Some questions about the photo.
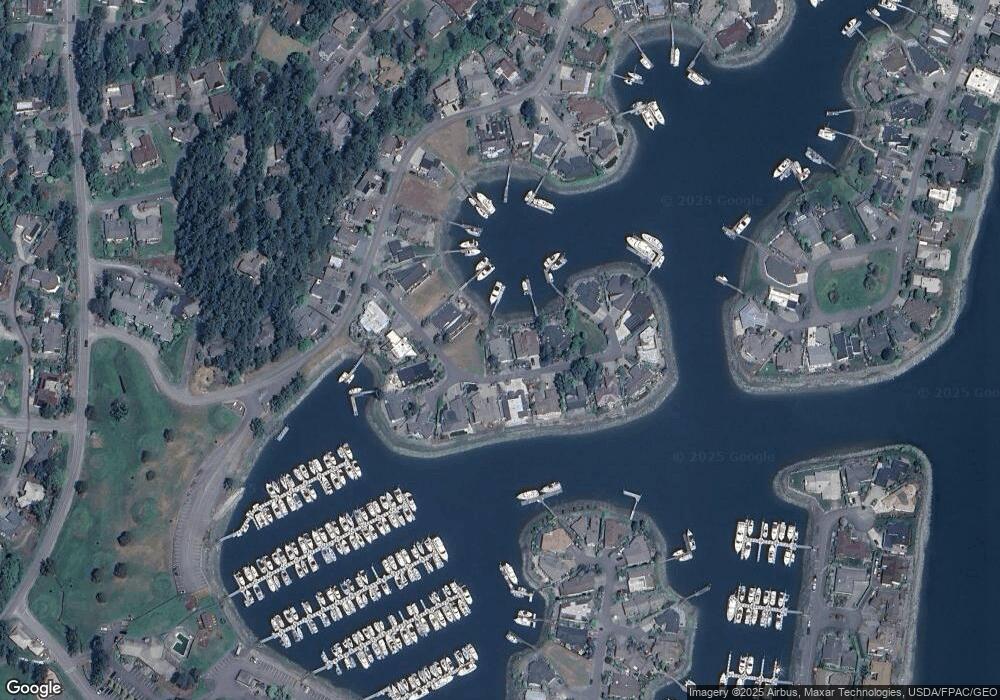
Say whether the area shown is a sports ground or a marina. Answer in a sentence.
This looks like a marina.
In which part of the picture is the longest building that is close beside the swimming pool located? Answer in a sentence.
The longest building that is close beside the swimming pool appears toward the bottom left of the photo.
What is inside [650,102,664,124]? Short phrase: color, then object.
white boat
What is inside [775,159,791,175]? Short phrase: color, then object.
white boat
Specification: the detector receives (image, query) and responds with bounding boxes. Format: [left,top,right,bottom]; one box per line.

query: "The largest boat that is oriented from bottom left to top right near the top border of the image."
[844,17,857,33]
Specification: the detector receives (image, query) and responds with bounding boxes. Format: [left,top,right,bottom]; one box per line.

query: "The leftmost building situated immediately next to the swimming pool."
[117,638,177,679]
